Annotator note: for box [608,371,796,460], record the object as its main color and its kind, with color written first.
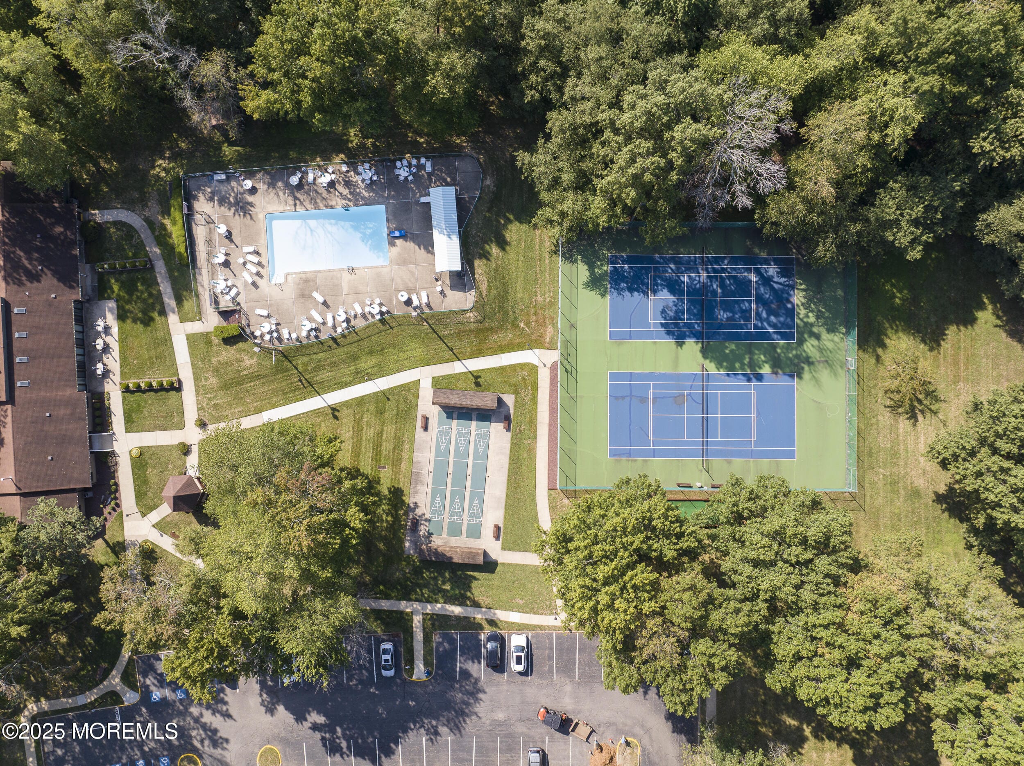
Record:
blue tennis court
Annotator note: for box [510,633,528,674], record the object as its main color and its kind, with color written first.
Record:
white car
